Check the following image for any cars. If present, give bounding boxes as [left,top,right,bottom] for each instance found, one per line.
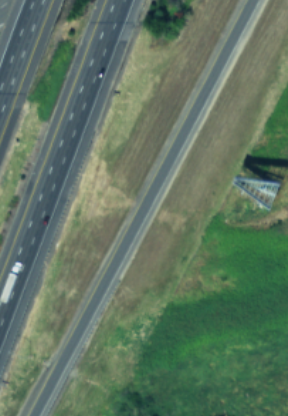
[98,68,106,78]
[43,214,50,226]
